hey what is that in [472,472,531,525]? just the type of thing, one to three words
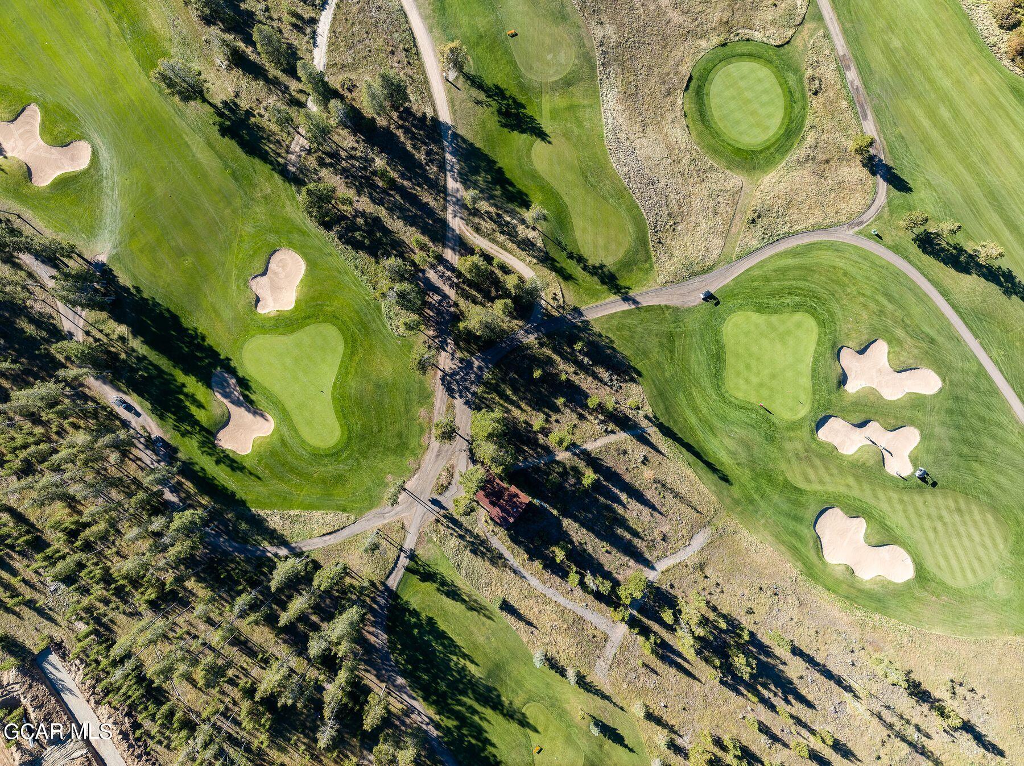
building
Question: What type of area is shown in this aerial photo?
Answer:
golf course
